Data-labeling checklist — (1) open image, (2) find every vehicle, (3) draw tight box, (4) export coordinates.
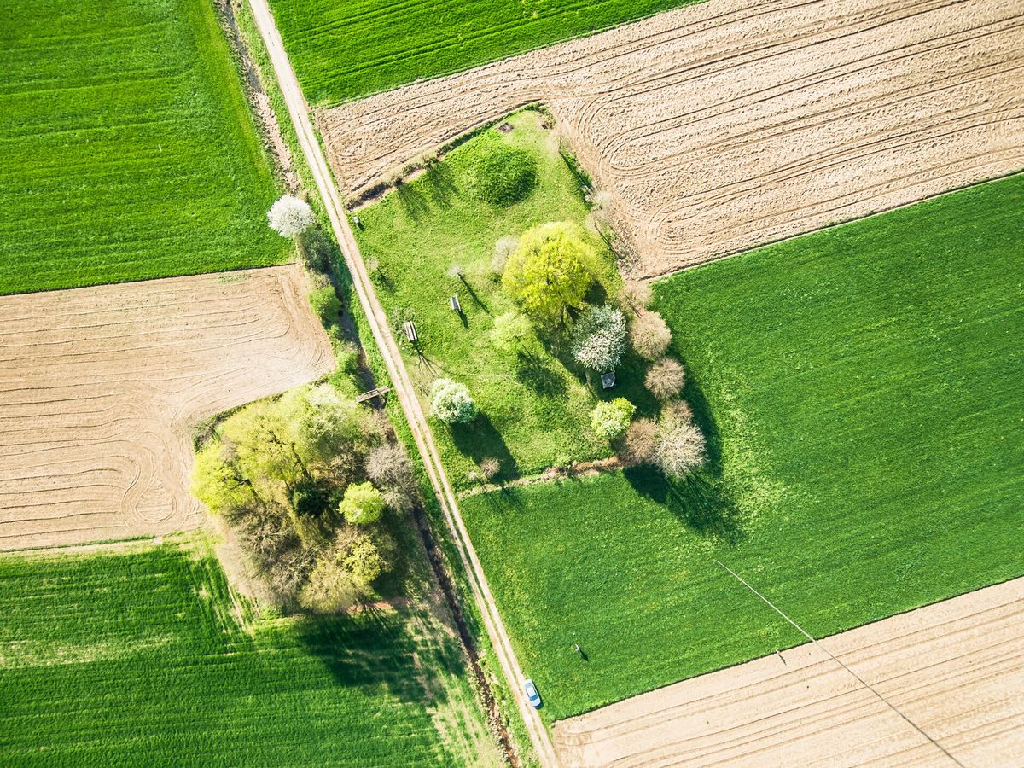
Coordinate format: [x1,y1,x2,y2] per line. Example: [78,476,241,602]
[521,678,543,709]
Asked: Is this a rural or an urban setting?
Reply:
rural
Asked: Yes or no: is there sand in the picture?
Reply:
No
